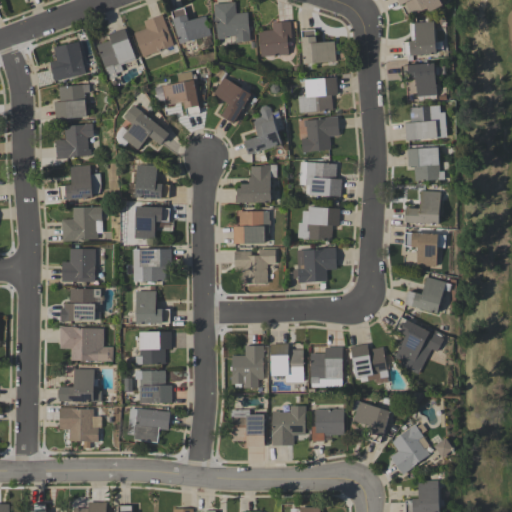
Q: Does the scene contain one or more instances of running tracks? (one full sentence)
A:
No, no running track is visible in the scene.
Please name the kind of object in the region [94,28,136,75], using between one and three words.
house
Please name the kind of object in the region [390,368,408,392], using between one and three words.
swimming pool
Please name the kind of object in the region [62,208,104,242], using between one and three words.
house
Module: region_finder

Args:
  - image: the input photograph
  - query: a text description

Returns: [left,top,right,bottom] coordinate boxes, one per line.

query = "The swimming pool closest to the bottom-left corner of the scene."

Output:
[102,368,114,390]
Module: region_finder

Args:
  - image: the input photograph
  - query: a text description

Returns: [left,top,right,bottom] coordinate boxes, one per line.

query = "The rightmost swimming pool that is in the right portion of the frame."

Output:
[422,407,438,426]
